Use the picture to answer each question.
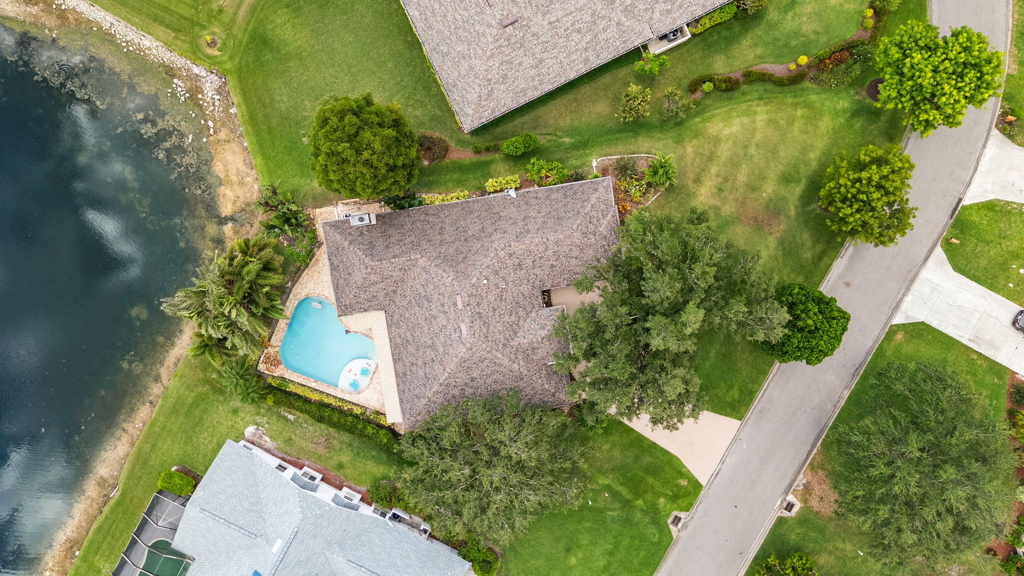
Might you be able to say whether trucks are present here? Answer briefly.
No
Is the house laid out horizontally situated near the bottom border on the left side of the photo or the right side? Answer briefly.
left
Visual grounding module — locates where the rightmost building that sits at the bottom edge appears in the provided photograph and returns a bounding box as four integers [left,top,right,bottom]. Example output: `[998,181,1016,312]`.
[167,437,473,576]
